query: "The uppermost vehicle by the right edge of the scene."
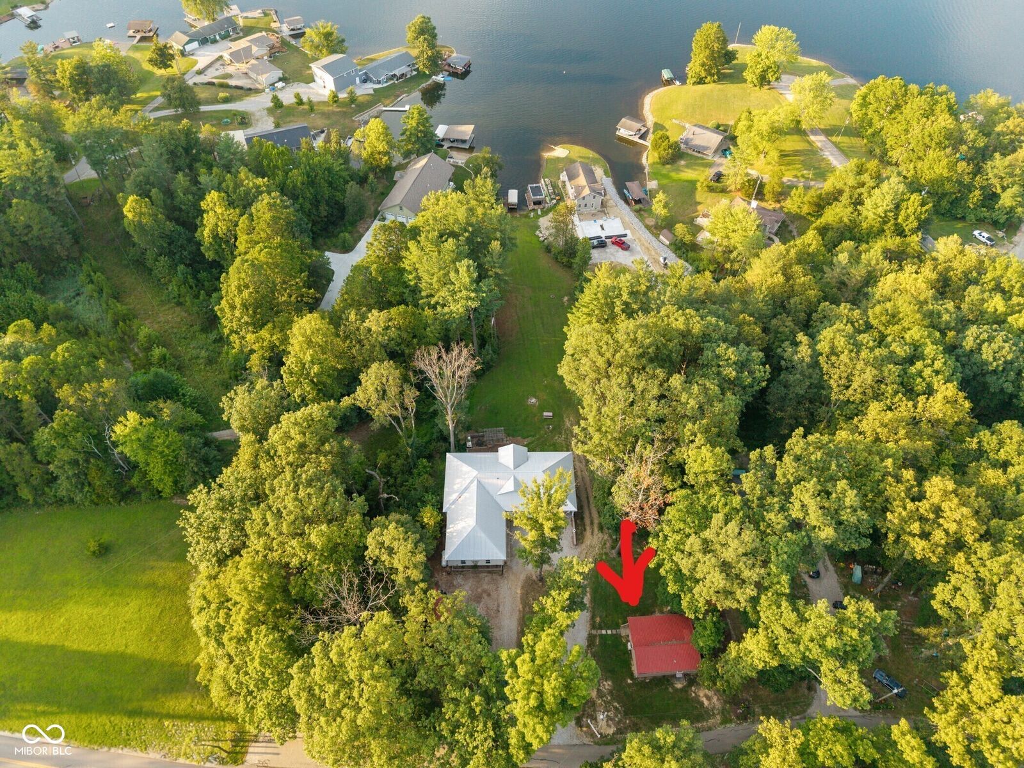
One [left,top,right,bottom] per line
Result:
[969,228,1001,246]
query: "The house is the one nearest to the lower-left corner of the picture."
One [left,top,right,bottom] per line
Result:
[442,443,579,578]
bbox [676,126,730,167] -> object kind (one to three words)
house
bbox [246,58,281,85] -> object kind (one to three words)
building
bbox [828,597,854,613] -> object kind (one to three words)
car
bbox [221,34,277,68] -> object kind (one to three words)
house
